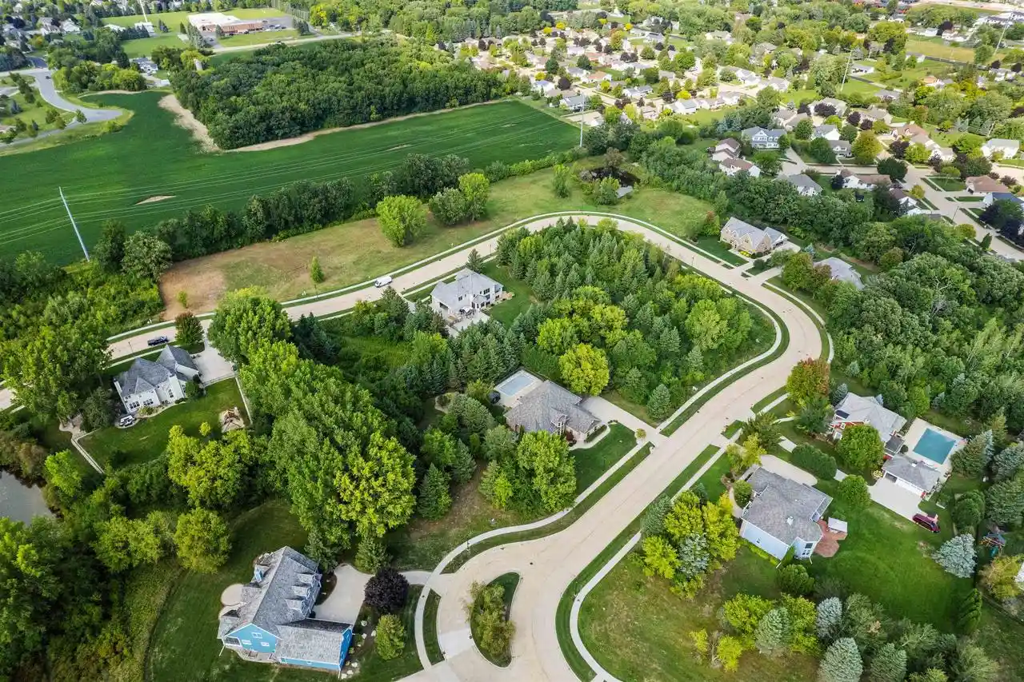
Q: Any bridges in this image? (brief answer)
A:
No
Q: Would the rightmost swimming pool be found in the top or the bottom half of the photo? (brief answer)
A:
bottom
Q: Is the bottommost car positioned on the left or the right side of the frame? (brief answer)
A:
right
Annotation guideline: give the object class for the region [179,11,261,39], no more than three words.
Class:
building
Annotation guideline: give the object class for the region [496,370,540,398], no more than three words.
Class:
swimming pool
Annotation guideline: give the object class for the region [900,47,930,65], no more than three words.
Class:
house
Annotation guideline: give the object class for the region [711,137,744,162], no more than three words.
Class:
house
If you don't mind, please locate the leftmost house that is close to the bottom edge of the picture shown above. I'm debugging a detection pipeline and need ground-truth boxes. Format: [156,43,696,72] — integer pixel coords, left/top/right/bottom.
[212,544,353,672]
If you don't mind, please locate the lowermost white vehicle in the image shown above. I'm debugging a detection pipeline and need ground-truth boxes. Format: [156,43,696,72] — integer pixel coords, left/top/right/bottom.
[374,274,393,287]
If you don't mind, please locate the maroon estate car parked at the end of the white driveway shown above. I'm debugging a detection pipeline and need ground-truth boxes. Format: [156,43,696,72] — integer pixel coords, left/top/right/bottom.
[913,511,941,532]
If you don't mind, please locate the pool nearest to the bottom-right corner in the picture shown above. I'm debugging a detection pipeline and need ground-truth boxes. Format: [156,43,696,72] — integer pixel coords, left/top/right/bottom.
[911,426,958,466]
